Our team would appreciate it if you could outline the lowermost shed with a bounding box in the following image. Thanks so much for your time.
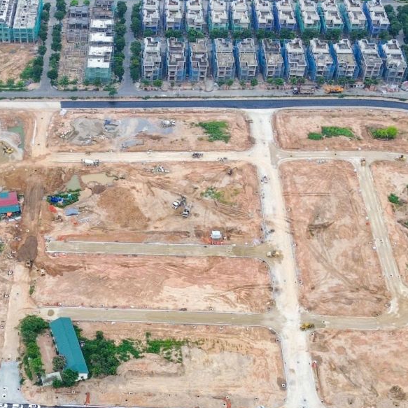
[53,316,90,378]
